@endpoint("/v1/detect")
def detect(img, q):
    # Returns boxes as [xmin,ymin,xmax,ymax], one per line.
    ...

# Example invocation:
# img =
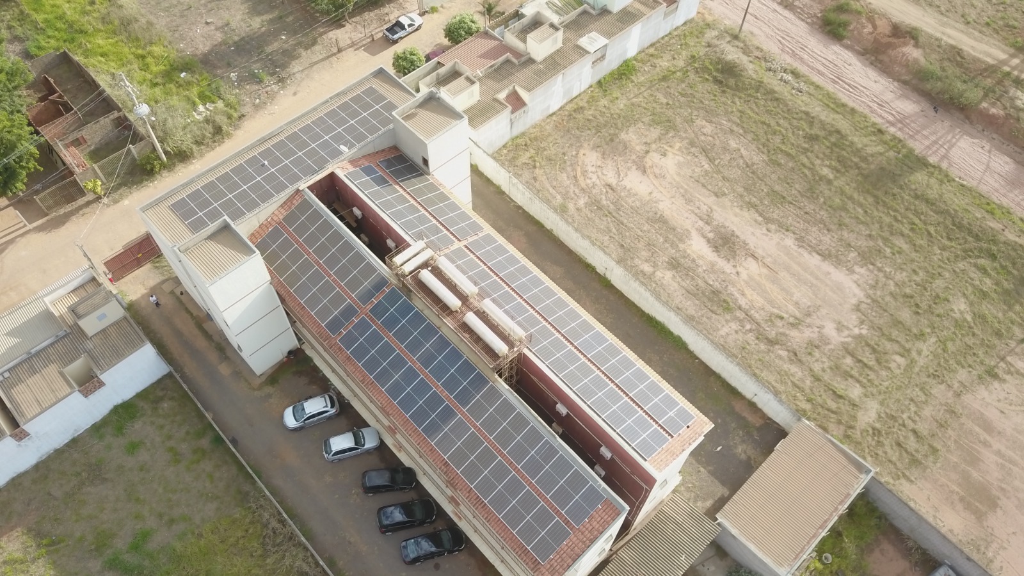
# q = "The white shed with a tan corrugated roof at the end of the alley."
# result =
[700,417,876,576]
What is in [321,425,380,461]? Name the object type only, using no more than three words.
car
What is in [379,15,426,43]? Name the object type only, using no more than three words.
truck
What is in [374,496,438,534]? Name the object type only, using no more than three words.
car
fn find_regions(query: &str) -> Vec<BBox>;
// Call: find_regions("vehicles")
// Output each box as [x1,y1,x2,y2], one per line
[374,496,438,534]
[281,392,341,431]
[397,527,466,568]
[423,44,464,67]
[359,462,419,497]
[321,425,380,461]
[379,15,426,43]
